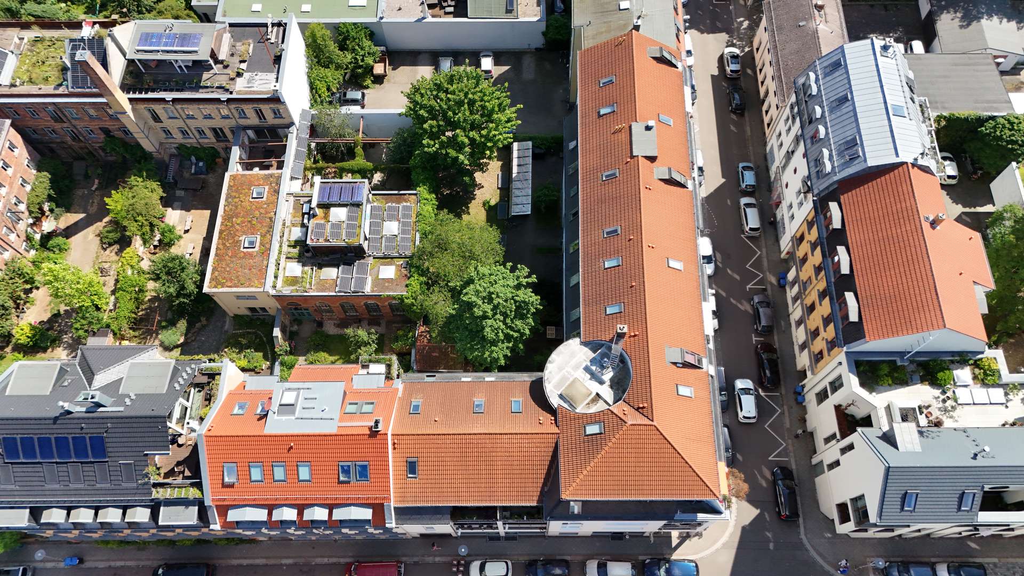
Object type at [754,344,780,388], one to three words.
car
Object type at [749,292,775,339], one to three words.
car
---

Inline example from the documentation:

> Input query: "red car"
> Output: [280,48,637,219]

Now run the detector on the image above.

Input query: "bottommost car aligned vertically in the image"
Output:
[769,465,800,523]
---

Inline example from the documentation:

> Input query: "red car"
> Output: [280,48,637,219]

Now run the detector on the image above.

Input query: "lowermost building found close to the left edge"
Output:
[0,350,242,538]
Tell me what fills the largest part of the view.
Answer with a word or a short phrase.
buildings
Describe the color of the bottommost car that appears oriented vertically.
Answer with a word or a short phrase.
black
